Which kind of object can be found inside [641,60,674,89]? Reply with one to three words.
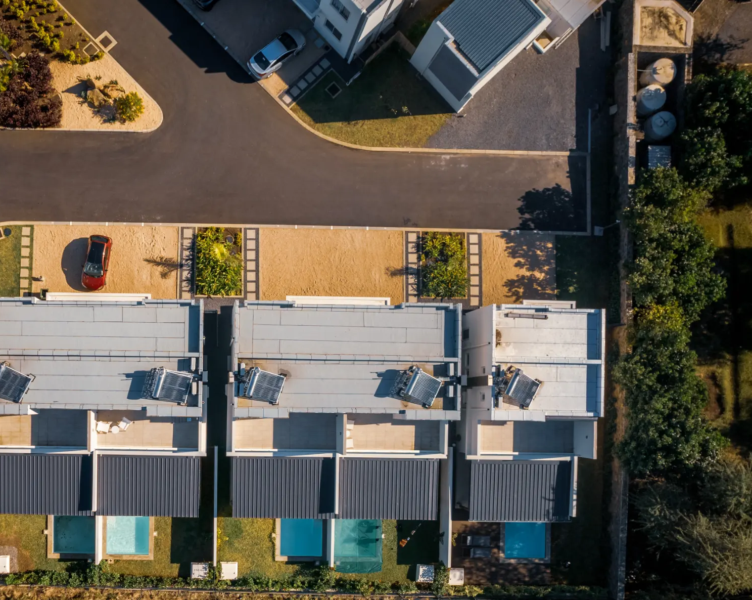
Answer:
water tank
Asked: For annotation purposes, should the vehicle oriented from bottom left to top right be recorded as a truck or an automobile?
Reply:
automobile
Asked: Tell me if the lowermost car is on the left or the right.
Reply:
left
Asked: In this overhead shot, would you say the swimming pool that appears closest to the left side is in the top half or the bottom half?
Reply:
bottom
